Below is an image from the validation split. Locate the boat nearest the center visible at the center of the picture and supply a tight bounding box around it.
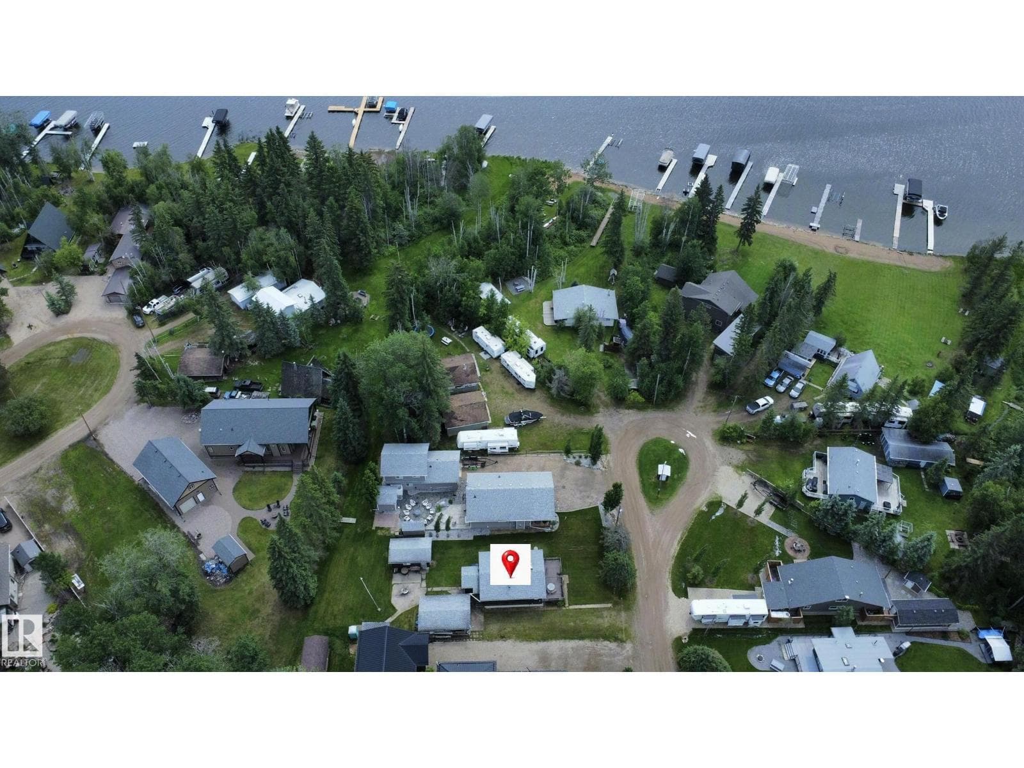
[502,406,542,423]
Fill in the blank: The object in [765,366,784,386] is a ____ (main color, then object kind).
blue car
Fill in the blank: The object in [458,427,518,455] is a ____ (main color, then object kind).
white trailer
